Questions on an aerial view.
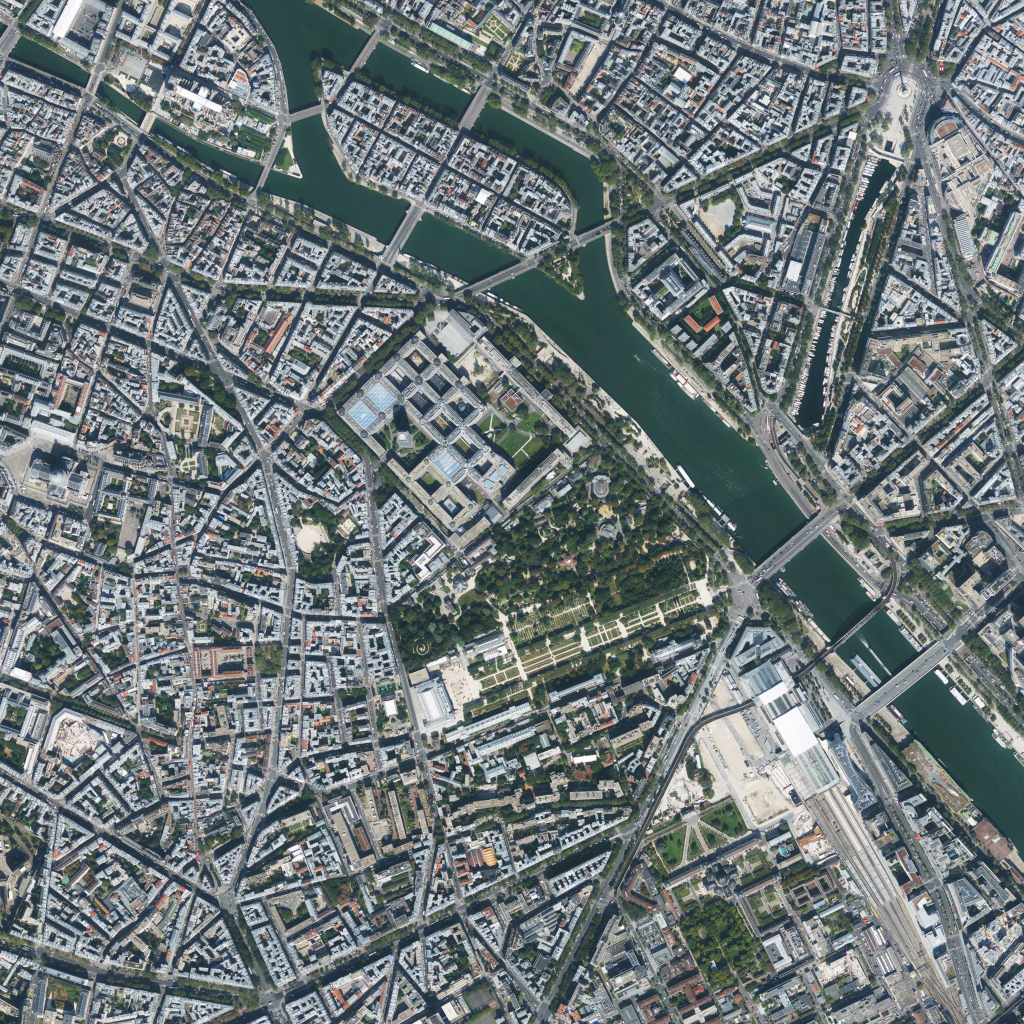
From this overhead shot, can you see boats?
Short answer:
Yes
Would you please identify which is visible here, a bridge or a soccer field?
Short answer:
bridge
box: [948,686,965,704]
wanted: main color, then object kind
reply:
white boat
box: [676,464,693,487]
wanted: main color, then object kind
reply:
white boat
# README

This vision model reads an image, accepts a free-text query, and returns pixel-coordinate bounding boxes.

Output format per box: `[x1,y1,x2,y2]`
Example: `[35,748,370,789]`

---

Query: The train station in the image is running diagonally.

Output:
[738,657,839,793]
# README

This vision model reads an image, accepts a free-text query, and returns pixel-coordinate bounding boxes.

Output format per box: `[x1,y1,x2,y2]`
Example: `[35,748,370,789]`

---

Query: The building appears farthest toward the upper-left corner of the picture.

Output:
[21,0,116,62]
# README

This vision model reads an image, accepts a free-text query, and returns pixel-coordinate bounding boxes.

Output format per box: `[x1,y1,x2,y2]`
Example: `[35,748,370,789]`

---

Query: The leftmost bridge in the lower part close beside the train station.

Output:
[618,699,755,889]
